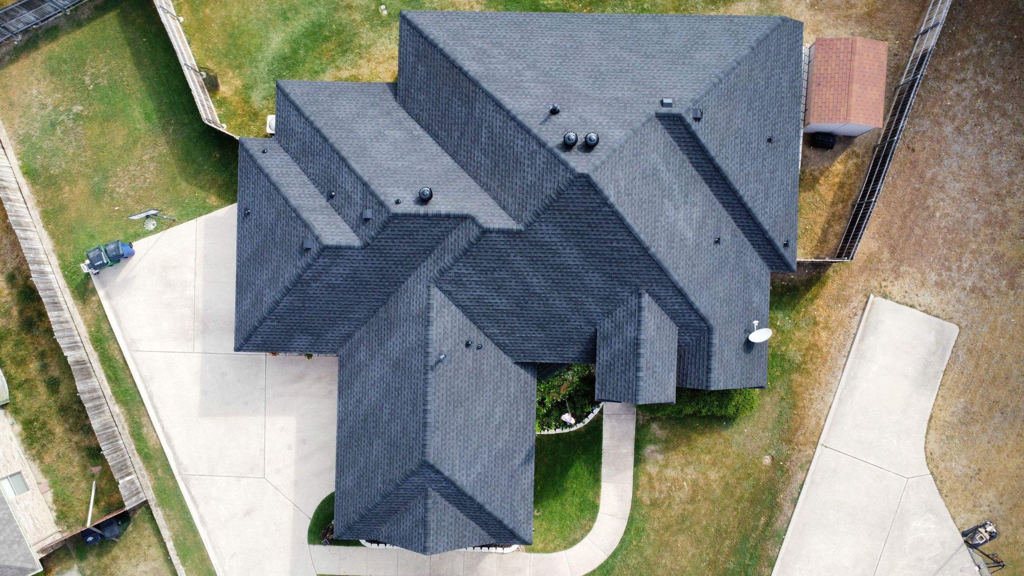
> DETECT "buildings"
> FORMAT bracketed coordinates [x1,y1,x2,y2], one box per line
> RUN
[0,404,61,576]
[232,8,807,560]
[804,37,888,136]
